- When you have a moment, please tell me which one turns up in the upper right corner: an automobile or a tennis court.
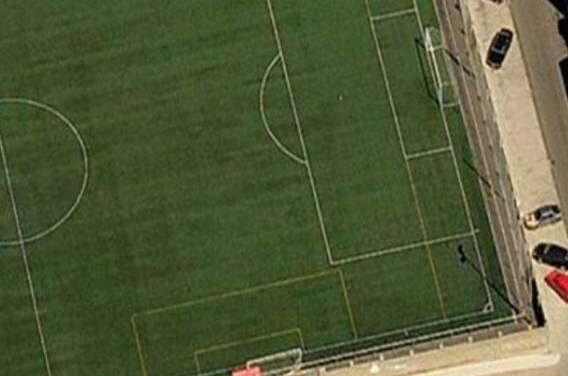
automobile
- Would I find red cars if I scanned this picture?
Yes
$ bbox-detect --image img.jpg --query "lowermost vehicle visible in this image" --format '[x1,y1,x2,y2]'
[548,275,568,301]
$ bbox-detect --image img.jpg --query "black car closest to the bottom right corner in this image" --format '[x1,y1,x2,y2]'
[532,243,568,273]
